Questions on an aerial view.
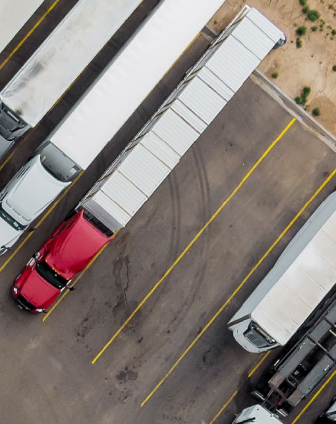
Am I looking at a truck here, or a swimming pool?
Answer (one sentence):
It is a truck that can be seen here.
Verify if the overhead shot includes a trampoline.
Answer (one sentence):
No, the frame has no trampoline in it.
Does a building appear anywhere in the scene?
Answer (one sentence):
No, no building can be seen from above.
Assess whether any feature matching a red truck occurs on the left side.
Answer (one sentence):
Yes, looking on the left side, one can make out a red truck.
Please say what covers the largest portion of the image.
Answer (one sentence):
What you mostly see from above here is paved ground.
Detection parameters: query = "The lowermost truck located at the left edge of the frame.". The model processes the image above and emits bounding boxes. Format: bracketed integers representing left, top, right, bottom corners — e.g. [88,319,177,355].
[11,199,118,316]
